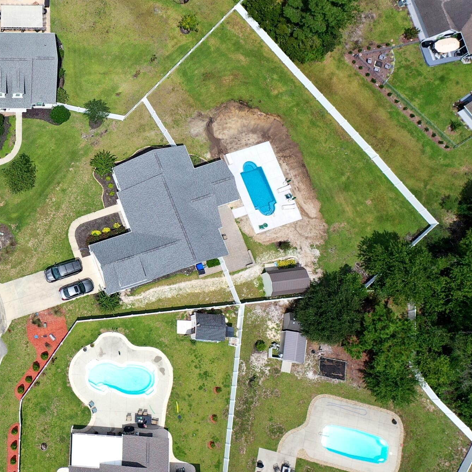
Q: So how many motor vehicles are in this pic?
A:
two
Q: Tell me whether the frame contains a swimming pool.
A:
Yes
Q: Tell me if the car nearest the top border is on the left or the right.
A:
left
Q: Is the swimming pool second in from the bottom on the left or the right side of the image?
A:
left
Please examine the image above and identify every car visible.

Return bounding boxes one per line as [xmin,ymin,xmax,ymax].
[45,257,83,279]
[60,278,95,301]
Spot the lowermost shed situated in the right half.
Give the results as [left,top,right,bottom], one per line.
[274,331,307,363]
